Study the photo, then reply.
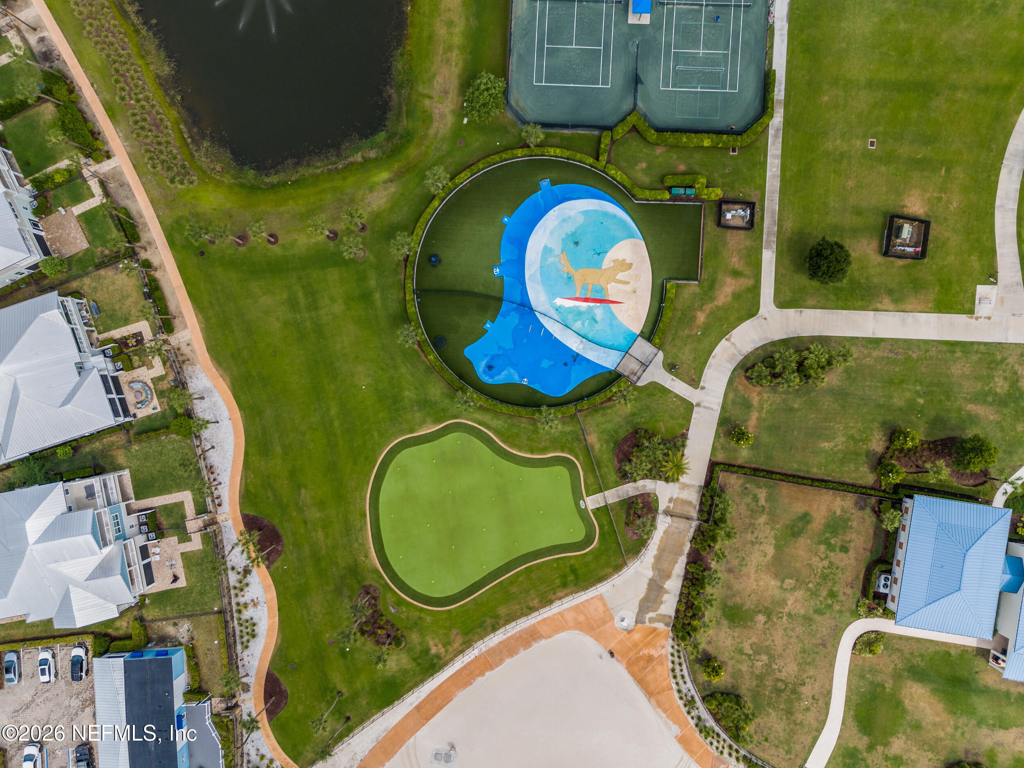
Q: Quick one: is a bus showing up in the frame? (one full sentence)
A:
No, this view has no bus in it.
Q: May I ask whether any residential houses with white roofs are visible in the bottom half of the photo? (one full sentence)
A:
Yes, you'll find a residential house with a white roof in the bottom half of the photo.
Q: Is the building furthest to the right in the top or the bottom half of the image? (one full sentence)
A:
The building furthest to the right sits in the bottom half of the picture.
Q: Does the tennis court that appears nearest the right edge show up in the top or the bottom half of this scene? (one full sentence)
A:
You can find the tennis court that appears nearest the right edge in the top half.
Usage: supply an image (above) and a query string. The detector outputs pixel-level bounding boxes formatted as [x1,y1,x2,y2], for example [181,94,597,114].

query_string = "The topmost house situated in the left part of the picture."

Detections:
[0,155,54,281]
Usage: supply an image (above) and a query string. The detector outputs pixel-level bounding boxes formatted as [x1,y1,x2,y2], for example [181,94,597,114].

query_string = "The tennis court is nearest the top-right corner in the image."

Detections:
[638,0,768,130]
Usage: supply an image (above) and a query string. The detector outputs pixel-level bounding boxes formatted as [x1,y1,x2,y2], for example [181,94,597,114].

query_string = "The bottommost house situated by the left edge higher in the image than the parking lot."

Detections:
[0,471,161,629]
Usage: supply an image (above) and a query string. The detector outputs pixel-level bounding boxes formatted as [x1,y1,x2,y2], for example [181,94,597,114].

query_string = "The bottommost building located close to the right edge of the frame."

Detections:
[972,589,1024,682]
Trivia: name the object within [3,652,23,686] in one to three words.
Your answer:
car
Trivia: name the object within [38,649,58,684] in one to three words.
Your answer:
car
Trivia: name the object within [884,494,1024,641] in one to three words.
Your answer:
building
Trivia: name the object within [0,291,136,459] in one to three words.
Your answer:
house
